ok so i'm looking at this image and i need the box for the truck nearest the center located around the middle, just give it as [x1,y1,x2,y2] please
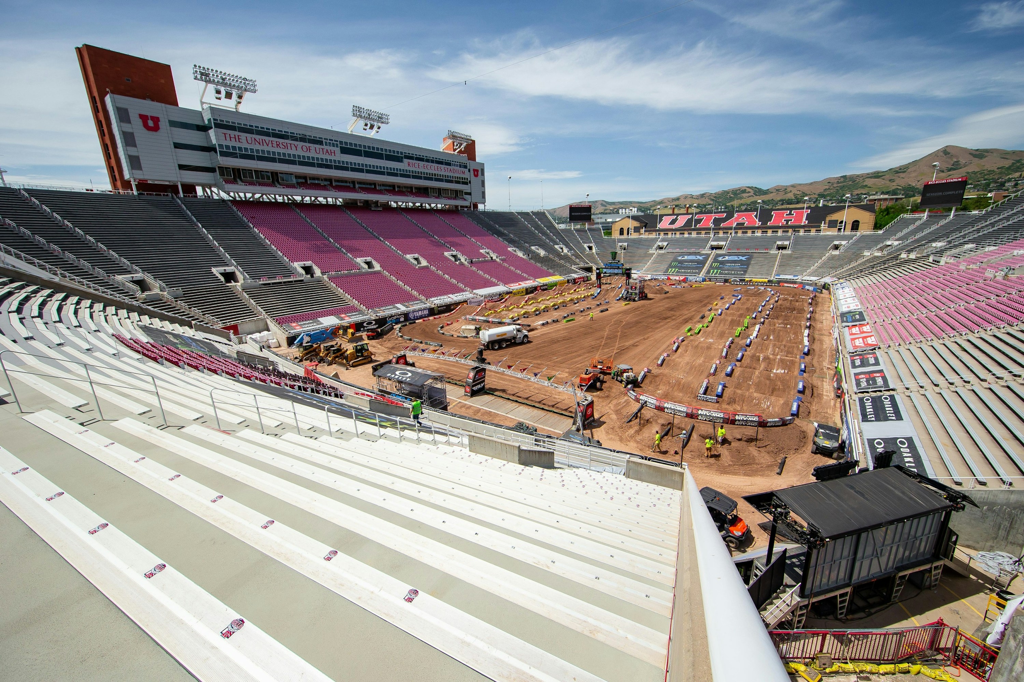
[482,324,538,351]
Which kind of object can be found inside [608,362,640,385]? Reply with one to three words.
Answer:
vehicle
